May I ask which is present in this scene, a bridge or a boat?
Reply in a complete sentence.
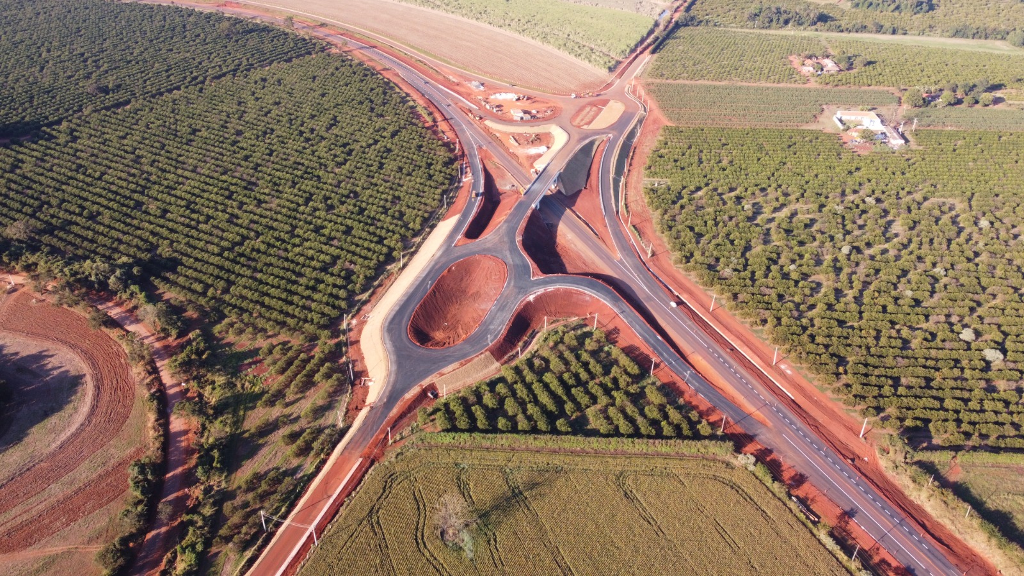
The image shows a bridge.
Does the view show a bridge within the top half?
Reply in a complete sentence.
Yes, looking within the top half, one can make out a bridge.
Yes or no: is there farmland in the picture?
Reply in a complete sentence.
Yes, farmland can be seen from above here.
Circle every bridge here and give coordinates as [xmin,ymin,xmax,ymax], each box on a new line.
[523,157,560,207]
